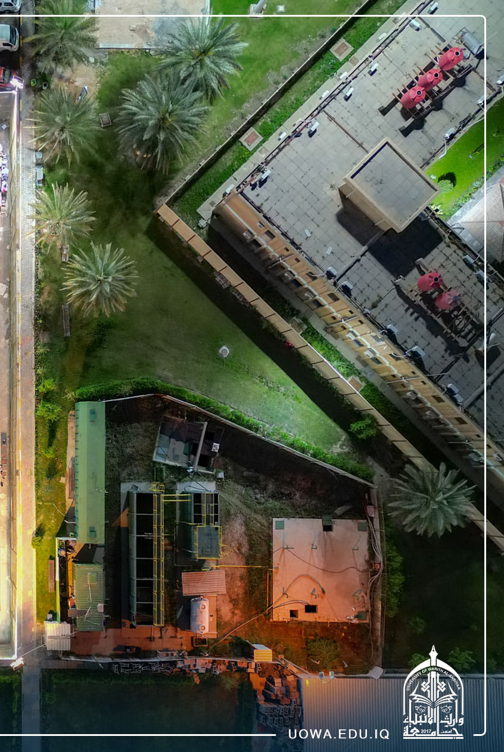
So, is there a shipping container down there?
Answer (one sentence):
Yes, a shipping container is visible in the scene.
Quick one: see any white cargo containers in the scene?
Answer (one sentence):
No, I find no white cargo container anywhere in the image.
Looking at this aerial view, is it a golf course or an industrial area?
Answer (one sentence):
The picture captures an industrial area.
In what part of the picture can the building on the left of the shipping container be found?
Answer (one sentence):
Look in the bottom left portion of the view to spot the building on the left of the shipping container.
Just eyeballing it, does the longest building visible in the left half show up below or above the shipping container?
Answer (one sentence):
It's above the shipping container that the longest building visible in the left half shows up.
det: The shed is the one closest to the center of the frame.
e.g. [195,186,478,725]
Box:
[145,416,224,473]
